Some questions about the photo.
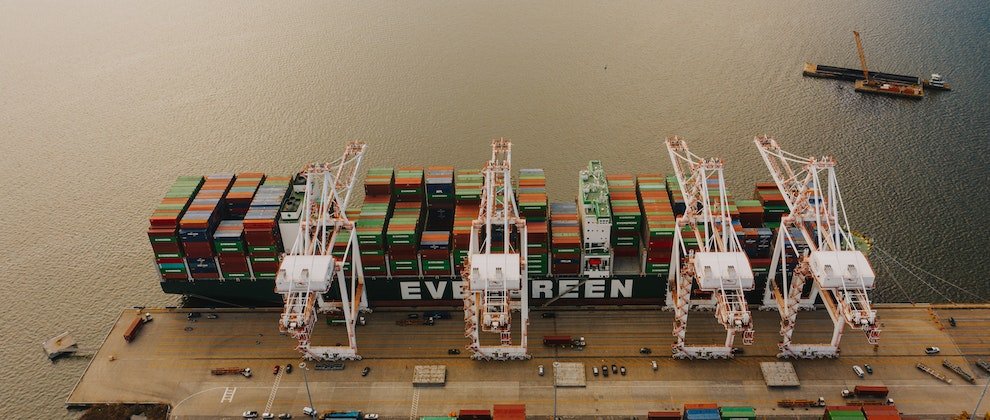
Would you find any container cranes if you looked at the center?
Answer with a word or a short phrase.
Yes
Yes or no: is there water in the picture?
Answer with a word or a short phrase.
Yes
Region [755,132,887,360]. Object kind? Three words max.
container crane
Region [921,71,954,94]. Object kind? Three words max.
boat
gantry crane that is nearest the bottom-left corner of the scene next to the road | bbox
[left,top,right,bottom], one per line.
[269,137,368,363]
